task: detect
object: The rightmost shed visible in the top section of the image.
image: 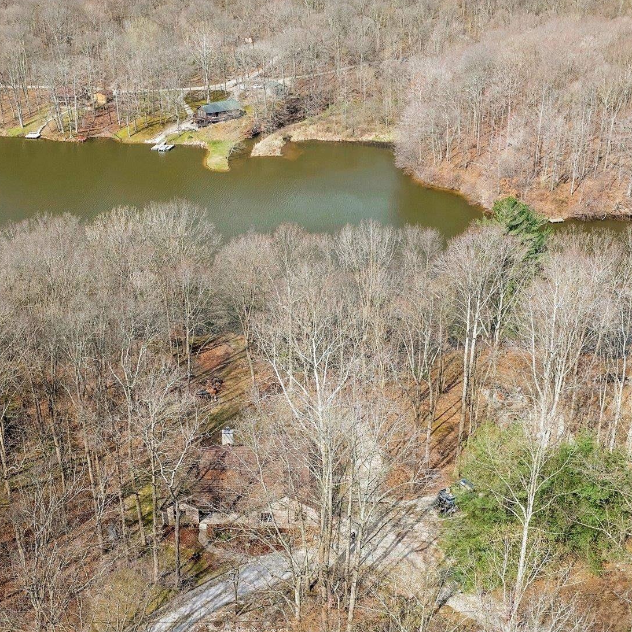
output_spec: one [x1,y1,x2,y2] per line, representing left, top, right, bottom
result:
[260,79,289,97]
